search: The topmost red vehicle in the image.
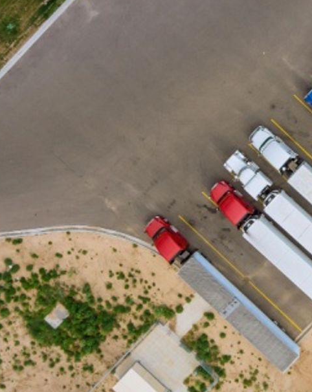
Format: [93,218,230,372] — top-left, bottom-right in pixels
[210,178,278,227]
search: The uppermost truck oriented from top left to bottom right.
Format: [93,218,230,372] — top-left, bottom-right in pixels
[250,124,312,175]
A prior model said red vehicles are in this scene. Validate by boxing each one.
[210,178,278,227]
[147,215,215,263]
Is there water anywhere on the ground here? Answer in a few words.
No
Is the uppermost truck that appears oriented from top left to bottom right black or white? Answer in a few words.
white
